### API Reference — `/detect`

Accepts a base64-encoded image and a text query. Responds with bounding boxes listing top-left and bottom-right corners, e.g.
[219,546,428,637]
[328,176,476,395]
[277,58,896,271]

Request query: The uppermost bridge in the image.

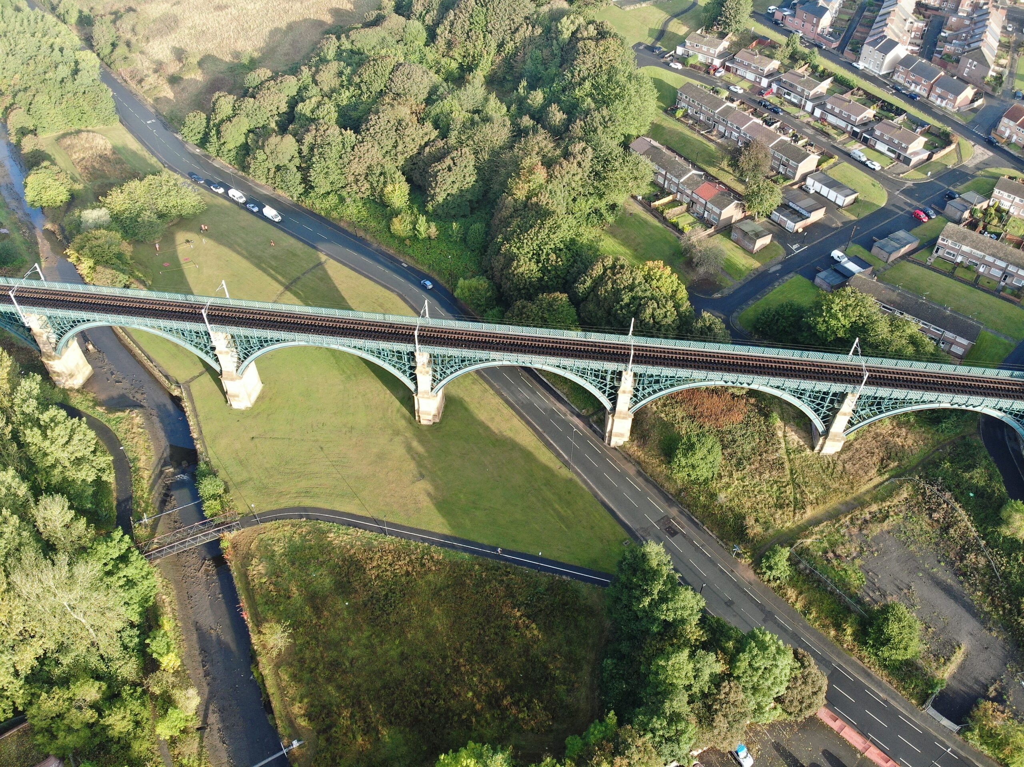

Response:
[0,277,1024,454]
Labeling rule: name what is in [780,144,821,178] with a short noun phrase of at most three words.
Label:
house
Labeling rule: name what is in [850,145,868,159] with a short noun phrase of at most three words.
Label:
vehicle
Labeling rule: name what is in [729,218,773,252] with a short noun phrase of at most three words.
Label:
shed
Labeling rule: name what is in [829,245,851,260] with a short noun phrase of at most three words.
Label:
vehicle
